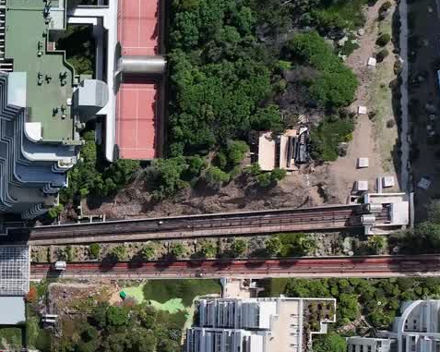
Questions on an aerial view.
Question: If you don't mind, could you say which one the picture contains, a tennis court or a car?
tennis court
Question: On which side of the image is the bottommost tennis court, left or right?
left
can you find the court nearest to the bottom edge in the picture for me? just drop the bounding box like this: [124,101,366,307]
[89,81,154,173]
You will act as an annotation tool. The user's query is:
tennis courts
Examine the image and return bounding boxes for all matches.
[89,81,154,173]
[114,0,154,75]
